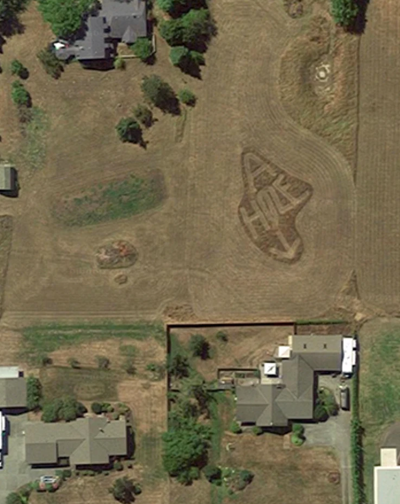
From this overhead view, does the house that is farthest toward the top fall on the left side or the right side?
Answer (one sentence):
The house that is farthest toward the top appears in the left half of the scene.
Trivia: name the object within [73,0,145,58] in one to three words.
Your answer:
house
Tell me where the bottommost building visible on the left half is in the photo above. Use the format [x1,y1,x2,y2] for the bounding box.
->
[24,417,126,465]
